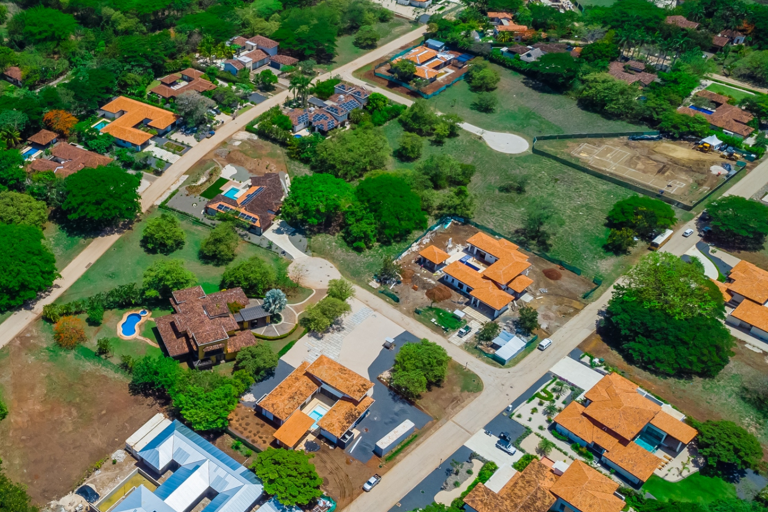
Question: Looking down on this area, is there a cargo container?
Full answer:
Yes, looking at the shot, I can spot a cargo container.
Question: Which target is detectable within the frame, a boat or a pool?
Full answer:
Looking from above, you can make out a pool.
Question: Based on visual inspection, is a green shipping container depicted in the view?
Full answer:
No, I can't see a single green shipping container in this photo.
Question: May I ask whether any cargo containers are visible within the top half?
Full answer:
No, no cargo container appears within the top half.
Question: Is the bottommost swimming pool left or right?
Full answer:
The bottommost swimming pool sits on the left side.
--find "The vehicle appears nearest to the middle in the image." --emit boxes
[454,324,475,339]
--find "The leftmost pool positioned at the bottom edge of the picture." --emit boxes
[98,468,156,512]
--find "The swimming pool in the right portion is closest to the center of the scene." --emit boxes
[458,252,482,272]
